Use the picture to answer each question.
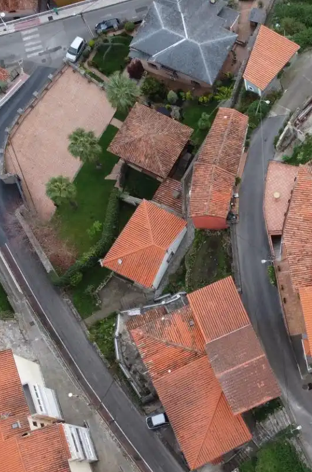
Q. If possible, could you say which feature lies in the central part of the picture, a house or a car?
house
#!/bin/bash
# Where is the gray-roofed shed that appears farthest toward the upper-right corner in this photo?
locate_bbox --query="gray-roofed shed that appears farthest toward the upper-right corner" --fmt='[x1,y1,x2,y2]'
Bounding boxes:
[250,9,268,32]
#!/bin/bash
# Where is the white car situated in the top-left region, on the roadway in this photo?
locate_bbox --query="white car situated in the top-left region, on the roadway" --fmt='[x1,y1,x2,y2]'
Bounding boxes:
[63,36,86,64]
